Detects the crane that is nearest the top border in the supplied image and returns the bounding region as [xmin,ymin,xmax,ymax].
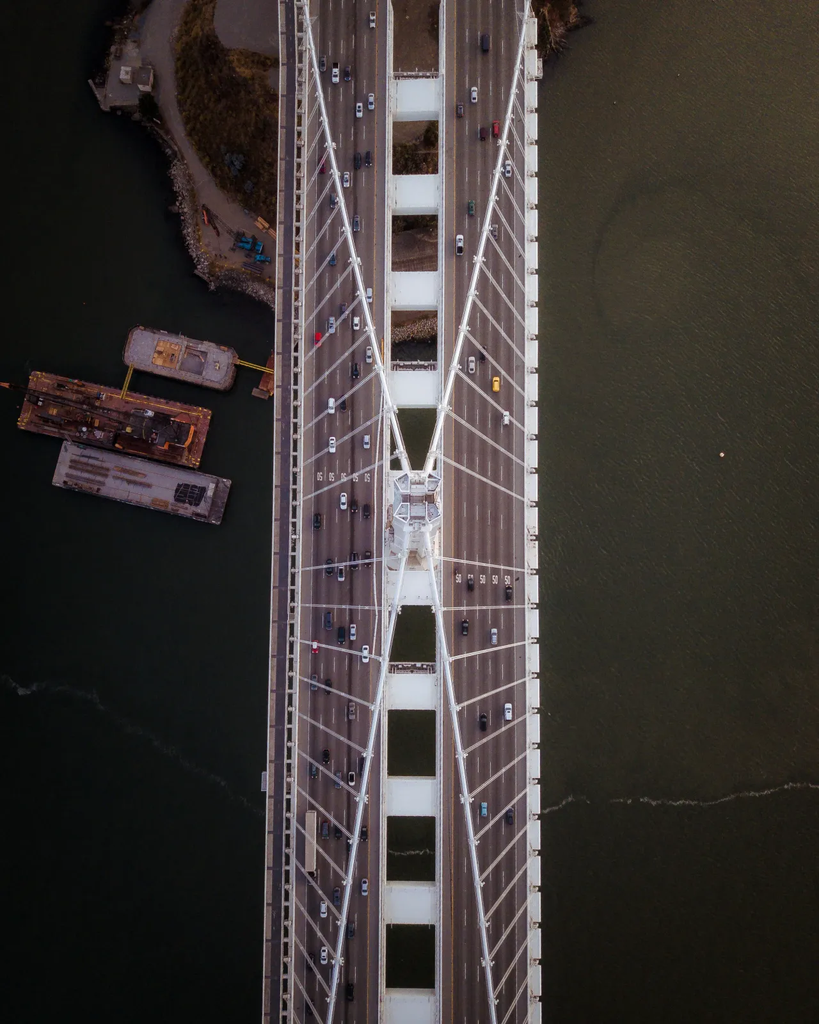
[202,204,255,254]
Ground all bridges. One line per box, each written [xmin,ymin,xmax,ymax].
[262,0,541,1024]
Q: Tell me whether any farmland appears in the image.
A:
No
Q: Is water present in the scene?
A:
Yes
